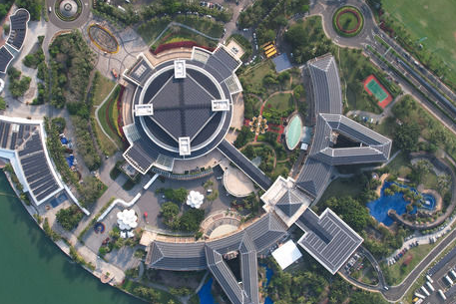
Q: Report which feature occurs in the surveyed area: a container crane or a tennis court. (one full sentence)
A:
The one in the frame is a tennis court.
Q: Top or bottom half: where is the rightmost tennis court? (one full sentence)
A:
Seen from above, the rightmost tennis court lies in the top half of the view.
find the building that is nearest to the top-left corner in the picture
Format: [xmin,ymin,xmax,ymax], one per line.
[6,8,32,53]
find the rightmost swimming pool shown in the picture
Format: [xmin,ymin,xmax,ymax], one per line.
[418,185,440,213]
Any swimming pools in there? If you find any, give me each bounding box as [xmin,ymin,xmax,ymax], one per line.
[418,185,440,213]
[261,265,275,304]
[285,113,304,151]
[367,179,420,227]
[50,195,70,209]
